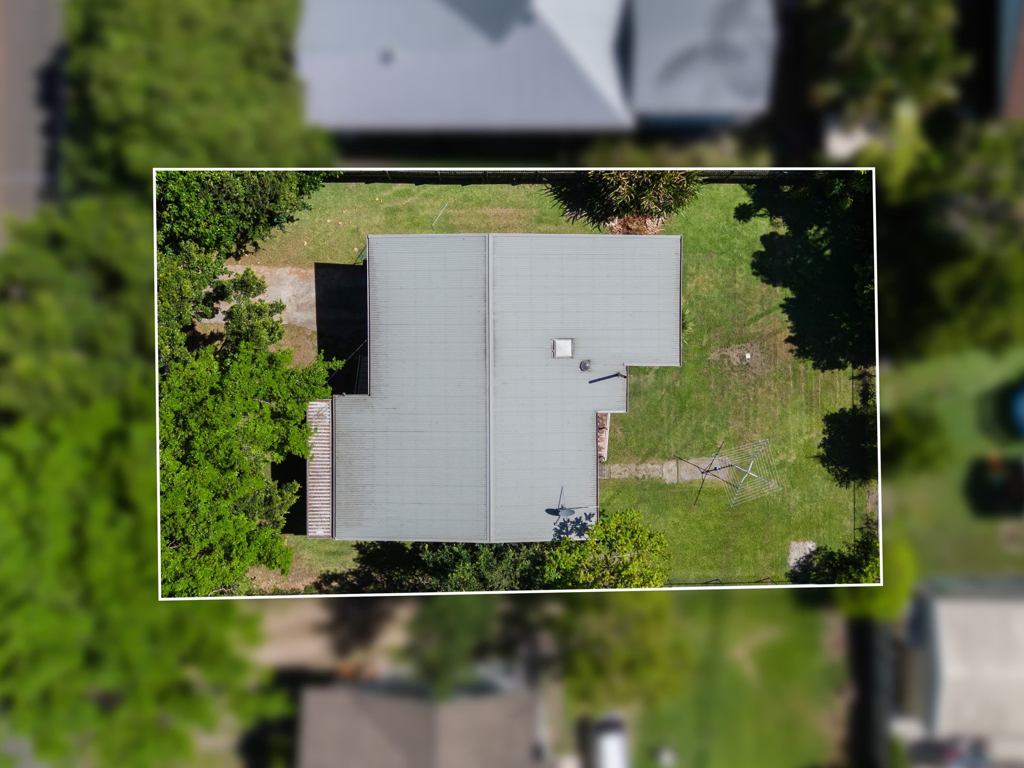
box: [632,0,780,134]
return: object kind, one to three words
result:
house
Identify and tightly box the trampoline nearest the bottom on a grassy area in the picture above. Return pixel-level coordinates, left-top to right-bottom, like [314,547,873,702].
[962,457,1024,522]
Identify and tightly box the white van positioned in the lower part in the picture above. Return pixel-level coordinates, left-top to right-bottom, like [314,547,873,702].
[592,737,638,768]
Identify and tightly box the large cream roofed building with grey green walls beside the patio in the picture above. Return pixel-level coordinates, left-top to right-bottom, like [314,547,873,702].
[894,582,1024,746]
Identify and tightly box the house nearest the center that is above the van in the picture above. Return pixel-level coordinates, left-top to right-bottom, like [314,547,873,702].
[305,232,685,543]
